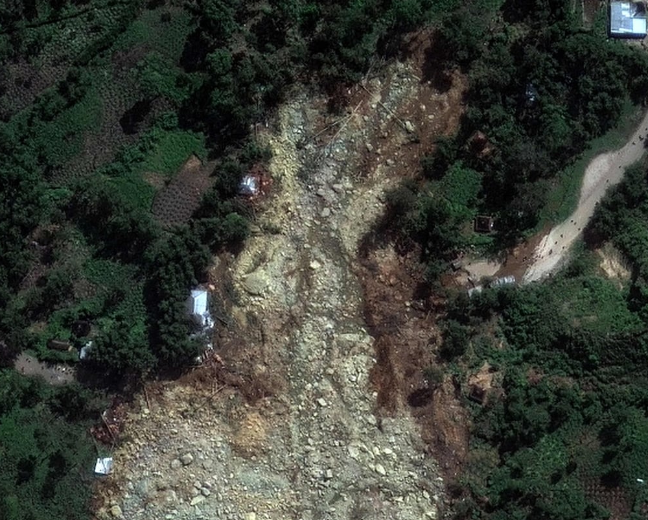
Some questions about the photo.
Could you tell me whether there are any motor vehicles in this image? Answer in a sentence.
No, the scene contains no motor vehicle.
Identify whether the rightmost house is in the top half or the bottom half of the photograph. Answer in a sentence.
The top half of the photo is where the rightmost house is.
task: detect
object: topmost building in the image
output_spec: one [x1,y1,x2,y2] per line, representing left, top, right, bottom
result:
[612,0,648,32]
